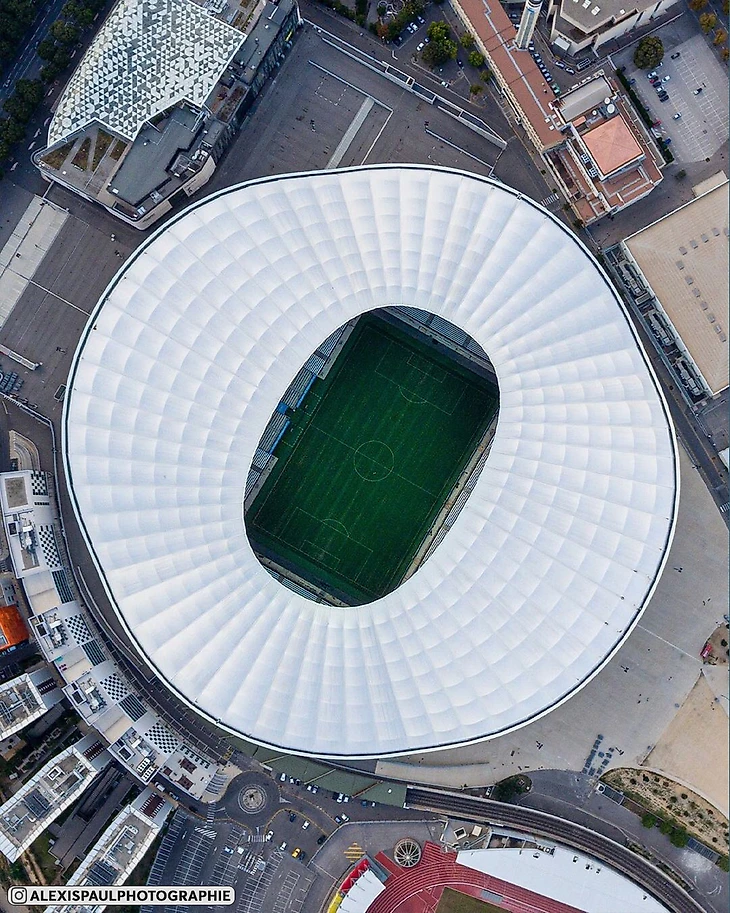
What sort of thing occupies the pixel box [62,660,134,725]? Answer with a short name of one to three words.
building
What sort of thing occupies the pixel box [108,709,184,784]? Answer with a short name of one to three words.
building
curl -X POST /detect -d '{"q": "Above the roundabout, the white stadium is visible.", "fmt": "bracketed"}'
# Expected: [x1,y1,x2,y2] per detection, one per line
[62,164,679,760]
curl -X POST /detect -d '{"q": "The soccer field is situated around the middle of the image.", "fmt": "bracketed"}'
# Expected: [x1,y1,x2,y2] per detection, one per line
[243,312,499,605]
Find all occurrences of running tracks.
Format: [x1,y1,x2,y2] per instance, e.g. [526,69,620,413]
[369,842,585,913]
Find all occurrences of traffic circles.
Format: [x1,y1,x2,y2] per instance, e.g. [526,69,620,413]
[223,768,282,827]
